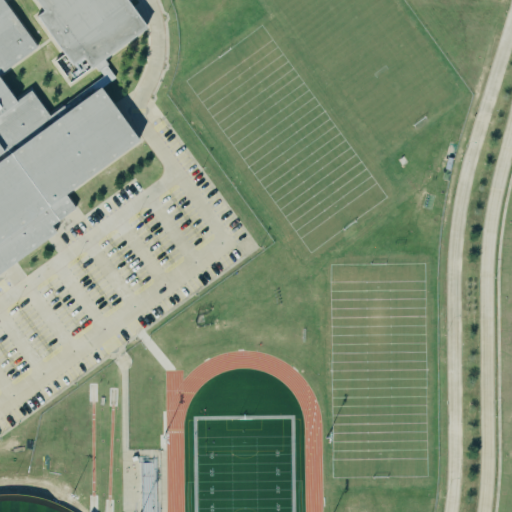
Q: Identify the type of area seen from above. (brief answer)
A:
sports ground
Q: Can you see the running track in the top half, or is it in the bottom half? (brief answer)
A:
bottom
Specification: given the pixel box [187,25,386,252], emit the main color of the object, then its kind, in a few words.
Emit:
green sports field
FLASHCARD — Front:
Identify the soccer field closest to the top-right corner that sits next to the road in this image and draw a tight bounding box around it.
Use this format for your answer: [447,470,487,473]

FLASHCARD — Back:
[270,0,462,148]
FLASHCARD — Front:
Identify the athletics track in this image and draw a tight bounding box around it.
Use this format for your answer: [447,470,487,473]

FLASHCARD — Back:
[166,350,324,512]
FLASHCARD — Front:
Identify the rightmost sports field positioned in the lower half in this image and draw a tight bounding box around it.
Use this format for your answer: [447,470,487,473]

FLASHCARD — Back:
[331,264,428,478]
